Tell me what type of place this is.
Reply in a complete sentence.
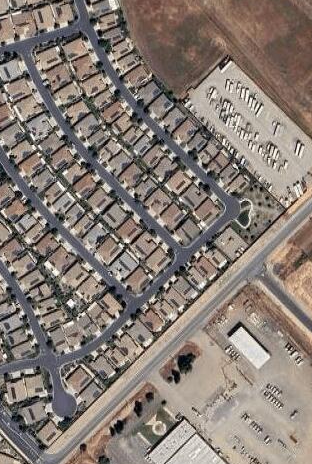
What you see here is a residential area.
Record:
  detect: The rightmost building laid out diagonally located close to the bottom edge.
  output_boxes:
[149,420,196,464]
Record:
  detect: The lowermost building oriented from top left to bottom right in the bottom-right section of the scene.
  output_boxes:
[230,327,271,369]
